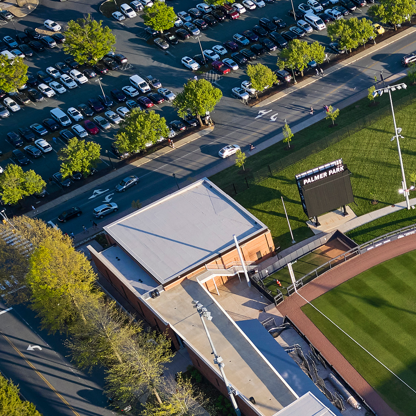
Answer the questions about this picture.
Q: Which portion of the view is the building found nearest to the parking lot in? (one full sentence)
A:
The building found nearest to the parking lot is located in the center region of the scene.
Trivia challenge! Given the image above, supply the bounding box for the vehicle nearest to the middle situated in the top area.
[216,140,241,157]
